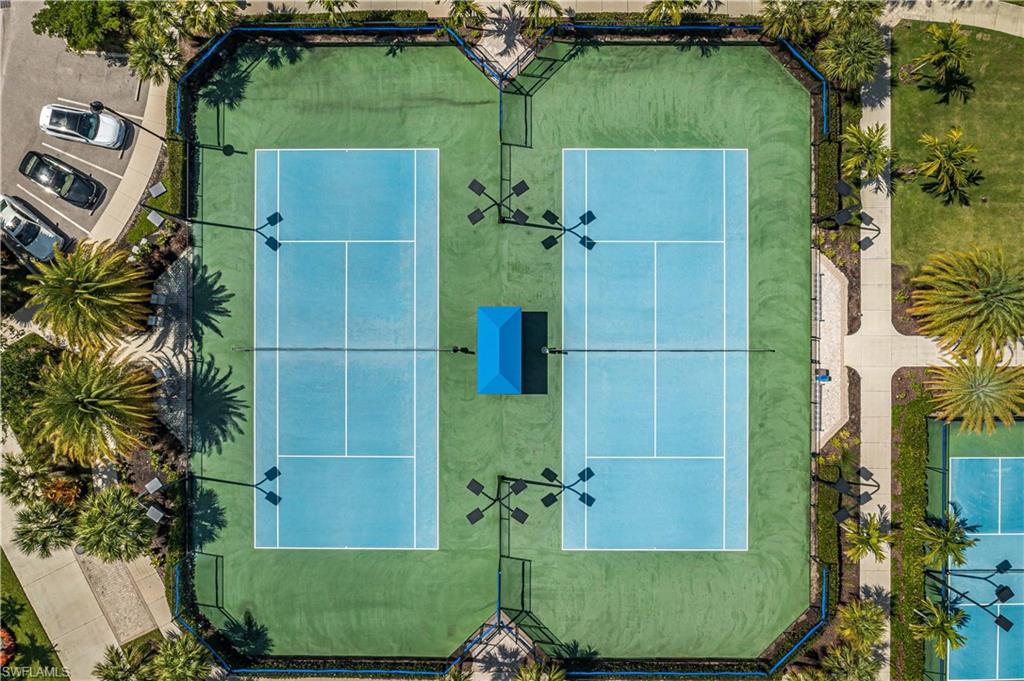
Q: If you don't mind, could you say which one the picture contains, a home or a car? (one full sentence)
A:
The one in the frame is a car.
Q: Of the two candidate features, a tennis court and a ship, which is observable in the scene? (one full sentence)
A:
The image shows a tennis court.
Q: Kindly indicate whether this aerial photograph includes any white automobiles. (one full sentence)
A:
Yes, this view includes a white automobile.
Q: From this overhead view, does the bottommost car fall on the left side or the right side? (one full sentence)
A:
The bottommost car appears in the left half of the scene.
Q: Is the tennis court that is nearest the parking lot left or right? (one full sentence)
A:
You can find the tennis court that is nearest the parking lot on the left side of the picture.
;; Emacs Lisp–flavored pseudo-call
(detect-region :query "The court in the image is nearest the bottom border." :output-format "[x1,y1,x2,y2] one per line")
[928,418,1024,681]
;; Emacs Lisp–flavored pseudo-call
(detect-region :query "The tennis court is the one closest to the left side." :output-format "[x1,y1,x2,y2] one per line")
[192,40,501,657]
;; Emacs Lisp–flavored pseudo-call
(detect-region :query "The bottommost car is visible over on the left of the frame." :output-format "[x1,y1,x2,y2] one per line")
[0,195,59,260]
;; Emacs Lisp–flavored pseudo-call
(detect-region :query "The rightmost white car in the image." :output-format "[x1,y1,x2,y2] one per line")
[37,100,122,148]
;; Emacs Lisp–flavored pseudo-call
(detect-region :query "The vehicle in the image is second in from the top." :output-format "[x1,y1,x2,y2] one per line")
[14,150,98,208]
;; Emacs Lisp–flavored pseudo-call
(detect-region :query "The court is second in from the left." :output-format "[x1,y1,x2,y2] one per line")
[501,40,812,657]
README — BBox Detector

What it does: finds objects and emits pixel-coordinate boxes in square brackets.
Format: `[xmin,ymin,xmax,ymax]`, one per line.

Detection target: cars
[37,100,122,148]
[0,195,59,260]
[14,150,98,208]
